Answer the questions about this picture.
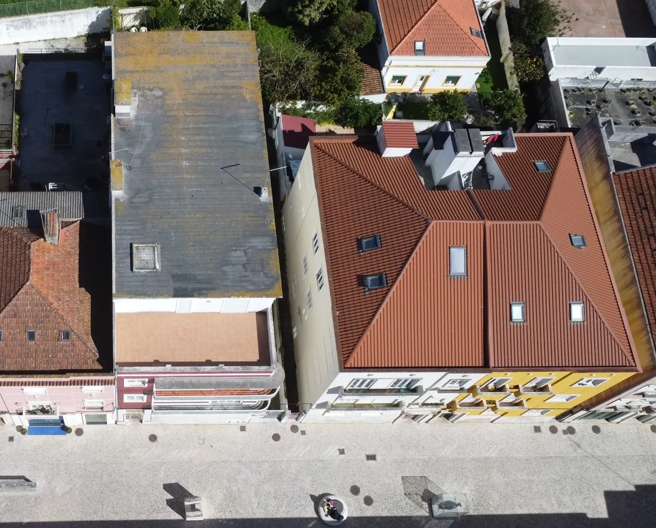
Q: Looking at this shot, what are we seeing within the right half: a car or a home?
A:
home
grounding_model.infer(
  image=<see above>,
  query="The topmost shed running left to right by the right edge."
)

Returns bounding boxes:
[529,38,656,95]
